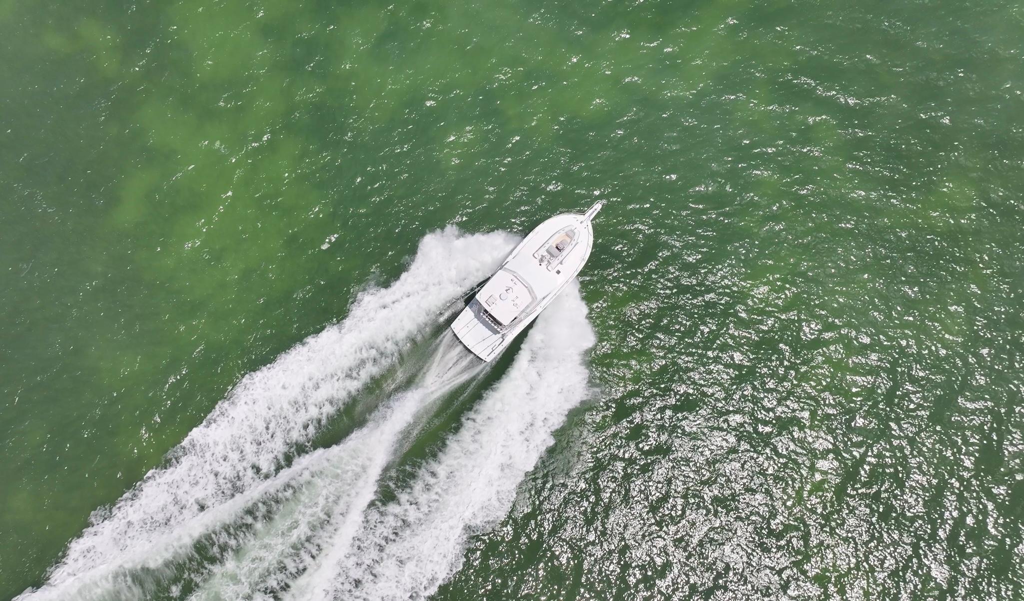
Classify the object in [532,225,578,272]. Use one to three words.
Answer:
boat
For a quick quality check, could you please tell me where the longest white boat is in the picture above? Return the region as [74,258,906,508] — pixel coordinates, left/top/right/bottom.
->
[423,199,606,364]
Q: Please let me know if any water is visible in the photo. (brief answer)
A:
Yes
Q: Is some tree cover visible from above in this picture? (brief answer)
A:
No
